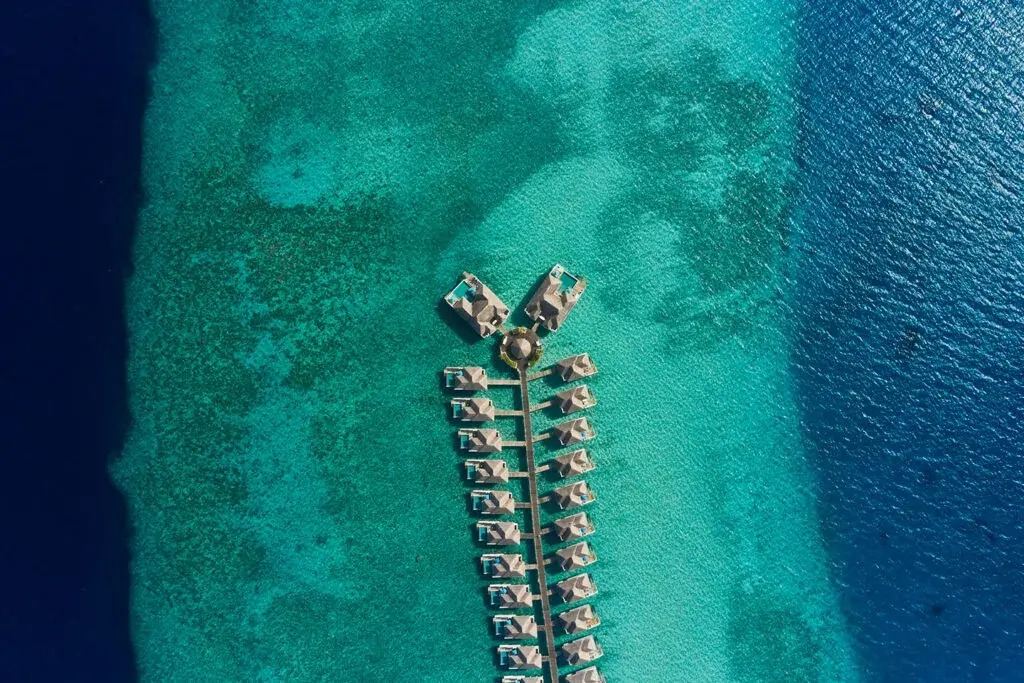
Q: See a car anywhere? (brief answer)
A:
No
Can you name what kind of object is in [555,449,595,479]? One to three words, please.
house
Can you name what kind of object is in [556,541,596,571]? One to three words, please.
house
